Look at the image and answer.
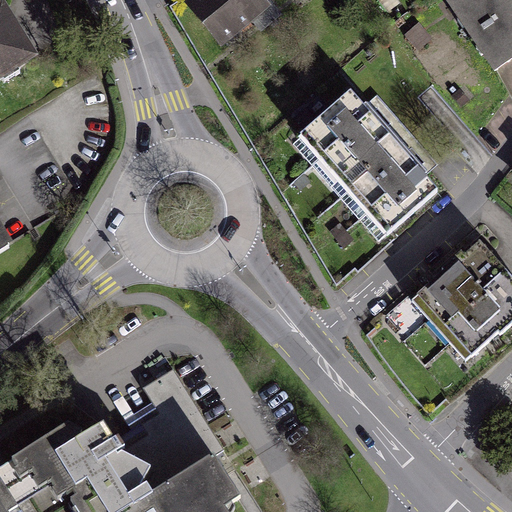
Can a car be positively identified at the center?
Yes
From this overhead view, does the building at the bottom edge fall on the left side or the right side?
left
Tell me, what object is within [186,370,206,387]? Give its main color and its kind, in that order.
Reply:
black car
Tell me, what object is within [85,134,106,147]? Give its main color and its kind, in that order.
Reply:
gray vehicle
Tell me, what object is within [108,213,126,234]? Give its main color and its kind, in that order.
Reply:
white car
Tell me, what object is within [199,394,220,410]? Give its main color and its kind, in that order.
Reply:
black car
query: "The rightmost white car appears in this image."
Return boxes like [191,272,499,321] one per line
[369,299,388,316]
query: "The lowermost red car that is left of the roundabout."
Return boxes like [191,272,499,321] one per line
[6,220,24,236]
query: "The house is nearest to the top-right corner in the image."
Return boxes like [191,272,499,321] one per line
[444,0,512,70]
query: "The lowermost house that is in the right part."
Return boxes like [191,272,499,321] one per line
[385,240,512,361]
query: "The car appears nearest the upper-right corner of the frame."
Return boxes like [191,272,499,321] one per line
[479,128,500,148]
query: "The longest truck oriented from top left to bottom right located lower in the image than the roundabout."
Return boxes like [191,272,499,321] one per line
[105,384,132,419]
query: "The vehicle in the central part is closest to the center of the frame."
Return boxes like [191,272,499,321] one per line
[222,220,240,241]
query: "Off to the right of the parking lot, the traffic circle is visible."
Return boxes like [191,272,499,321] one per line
[110,137,261,287]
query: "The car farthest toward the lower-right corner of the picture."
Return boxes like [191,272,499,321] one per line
[358,425,376,448]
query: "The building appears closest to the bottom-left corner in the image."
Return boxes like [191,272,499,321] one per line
[0,370,242,512]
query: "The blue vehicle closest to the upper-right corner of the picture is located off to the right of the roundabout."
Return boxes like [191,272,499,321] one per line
[432,194,452,212]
